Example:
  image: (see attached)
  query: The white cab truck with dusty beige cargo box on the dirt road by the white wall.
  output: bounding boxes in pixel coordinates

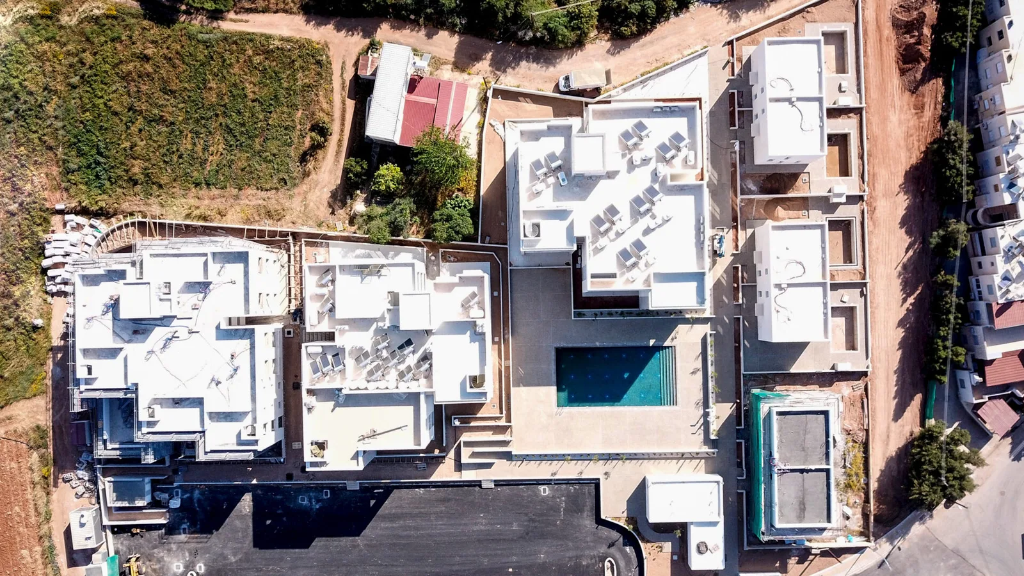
[557,71,606,94]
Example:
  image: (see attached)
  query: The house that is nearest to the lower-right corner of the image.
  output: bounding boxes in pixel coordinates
[967,398,1020,437]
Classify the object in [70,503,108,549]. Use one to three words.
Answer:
building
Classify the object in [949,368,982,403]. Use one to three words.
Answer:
house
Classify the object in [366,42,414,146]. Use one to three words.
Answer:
house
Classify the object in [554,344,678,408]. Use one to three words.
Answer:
swimming pool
